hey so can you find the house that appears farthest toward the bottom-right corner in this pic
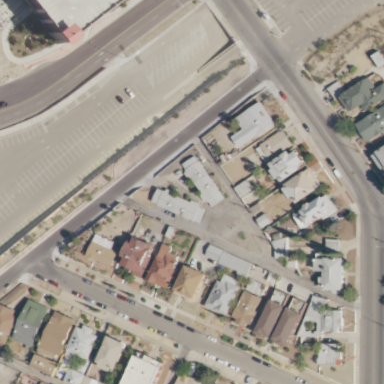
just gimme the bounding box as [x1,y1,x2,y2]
[317,346,341,366]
